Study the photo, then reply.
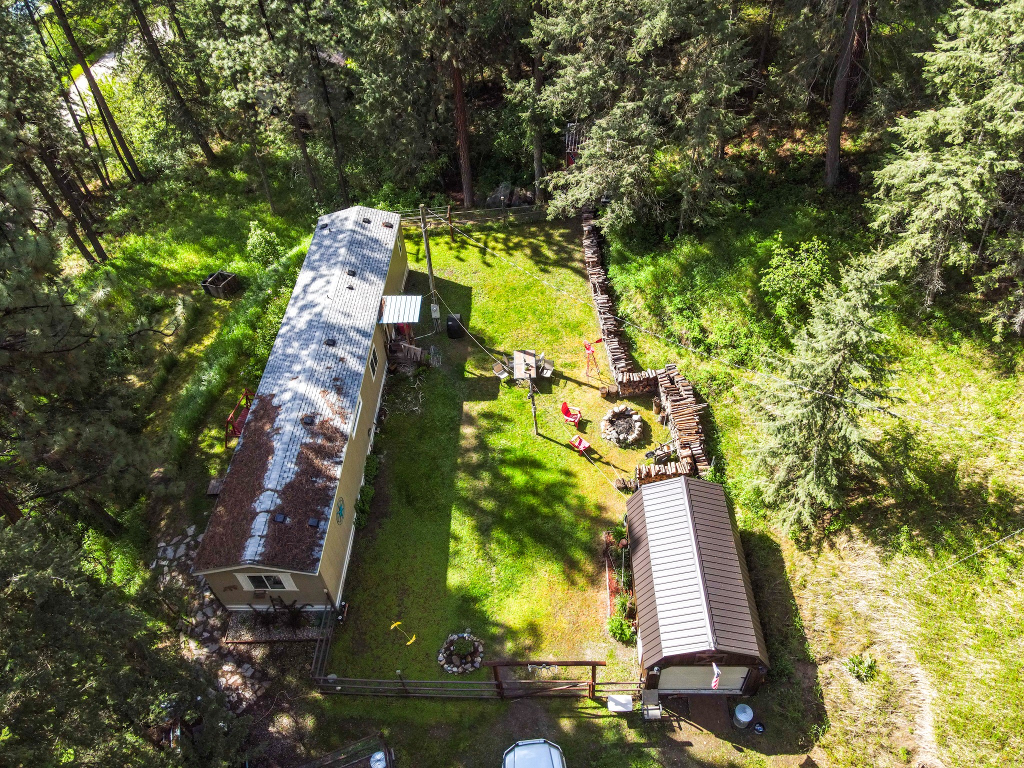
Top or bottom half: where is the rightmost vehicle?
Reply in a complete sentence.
Seen from above, the rightmost vehicle lies in the bottom half of the view.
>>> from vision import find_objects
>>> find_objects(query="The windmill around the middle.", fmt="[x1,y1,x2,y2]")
[586,346,613,387]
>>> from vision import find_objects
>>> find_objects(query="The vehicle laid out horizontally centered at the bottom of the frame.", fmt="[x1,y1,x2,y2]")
[503,741,566,768]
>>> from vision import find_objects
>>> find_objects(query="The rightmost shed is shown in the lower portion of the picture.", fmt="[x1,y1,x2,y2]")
[624,476,772,690]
